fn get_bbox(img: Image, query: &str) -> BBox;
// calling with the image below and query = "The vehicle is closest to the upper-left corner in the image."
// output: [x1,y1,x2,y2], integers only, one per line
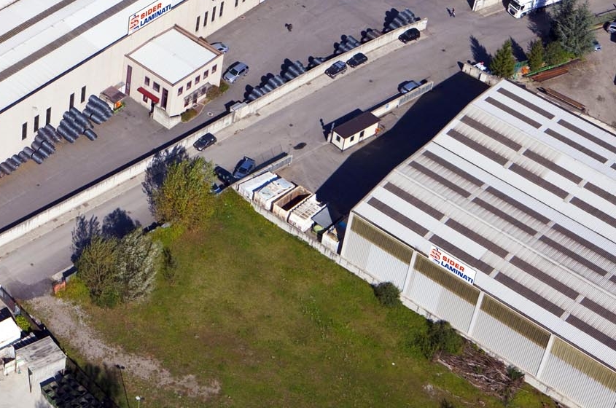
[208,36,234,57]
